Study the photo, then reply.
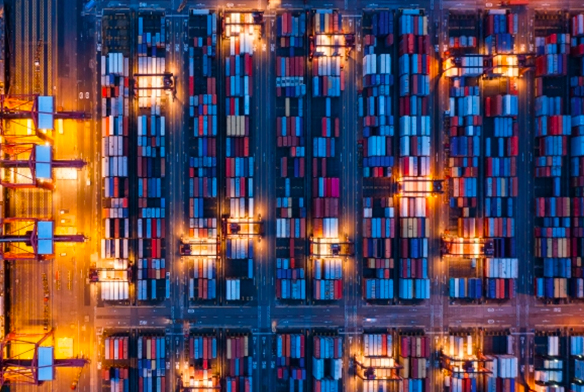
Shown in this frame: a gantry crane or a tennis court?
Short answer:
gantry crane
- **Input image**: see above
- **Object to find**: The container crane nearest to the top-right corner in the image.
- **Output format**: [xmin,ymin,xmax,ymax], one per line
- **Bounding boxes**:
[479,51,540,77]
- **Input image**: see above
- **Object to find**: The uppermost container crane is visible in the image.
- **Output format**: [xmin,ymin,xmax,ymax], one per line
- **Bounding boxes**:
[219,9,268,38]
